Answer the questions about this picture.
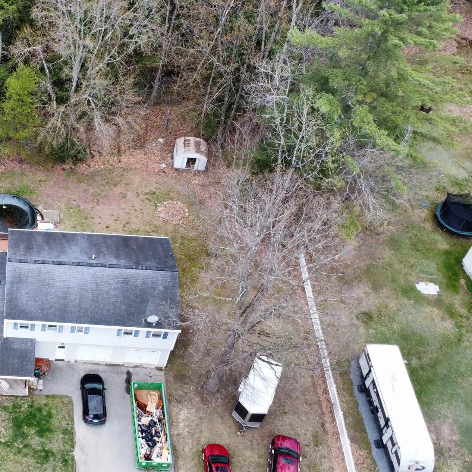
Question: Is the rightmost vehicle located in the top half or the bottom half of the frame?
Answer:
bottom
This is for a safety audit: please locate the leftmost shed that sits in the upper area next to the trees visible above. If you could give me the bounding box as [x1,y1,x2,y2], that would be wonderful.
[171,130,210,170]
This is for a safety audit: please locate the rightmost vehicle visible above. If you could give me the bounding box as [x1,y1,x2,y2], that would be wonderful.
[350,344,437,472]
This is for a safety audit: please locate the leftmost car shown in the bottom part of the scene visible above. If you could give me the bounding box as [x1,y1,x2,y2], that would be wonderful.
[78,372,110,429]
